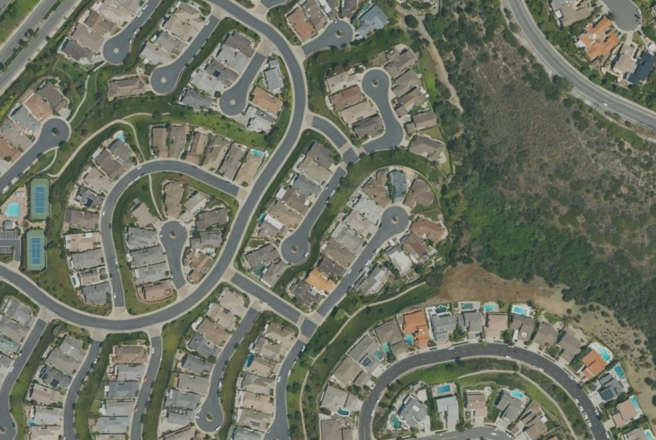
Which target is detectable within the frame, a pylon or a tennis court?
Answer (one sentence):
The image shows a tennis court.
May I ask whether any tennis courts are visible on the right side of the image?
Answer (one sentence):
No, no tennis court appears on the right side of the image.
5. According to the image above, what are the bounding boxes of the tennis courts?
[26,230,46,271]
[30,179,50,220]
